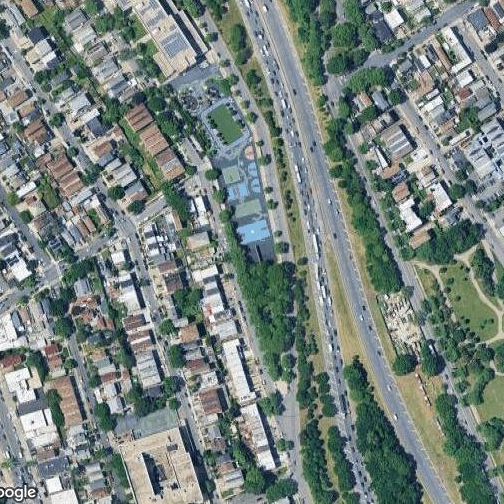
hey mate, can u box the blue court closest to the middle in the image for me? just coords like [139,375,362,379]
[237,220,269,243]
